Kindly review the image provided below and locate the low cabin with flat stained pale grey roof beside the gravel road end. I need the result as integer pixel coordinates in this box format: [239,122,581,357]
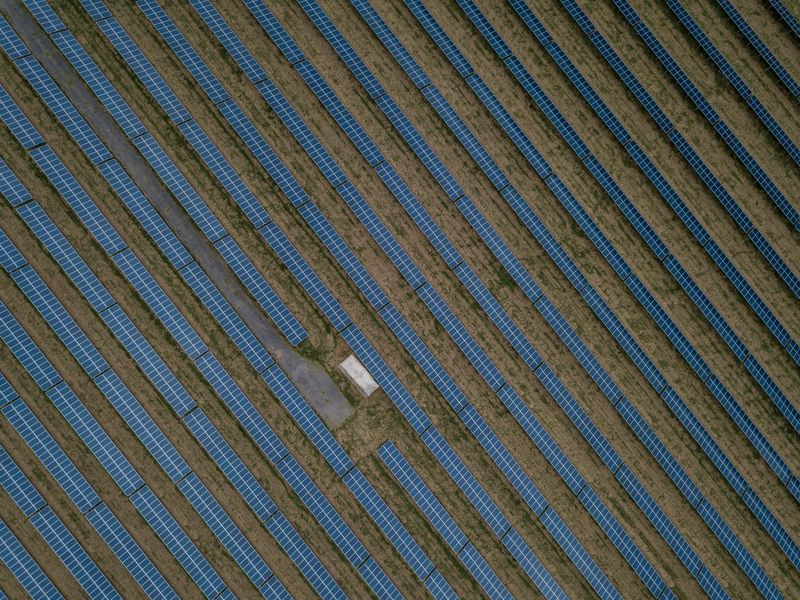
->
[337,353,378,399]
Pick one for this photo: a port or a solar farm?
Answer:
solar farm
